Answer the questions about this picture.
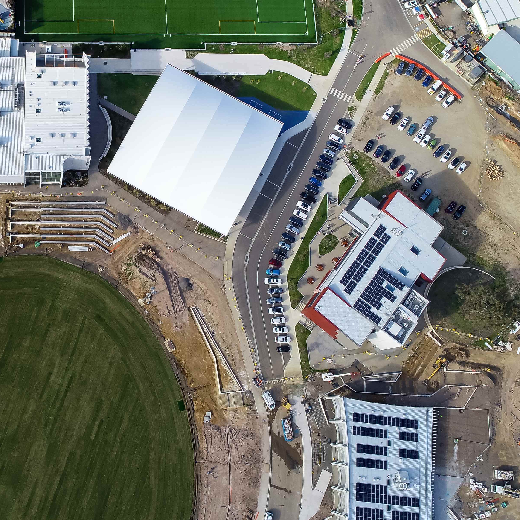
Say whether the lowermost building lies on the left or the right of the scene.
right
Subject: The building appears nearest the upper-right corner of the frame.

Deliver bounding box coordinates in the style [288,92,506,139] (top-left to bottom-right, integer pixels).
[474,0,520,29]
